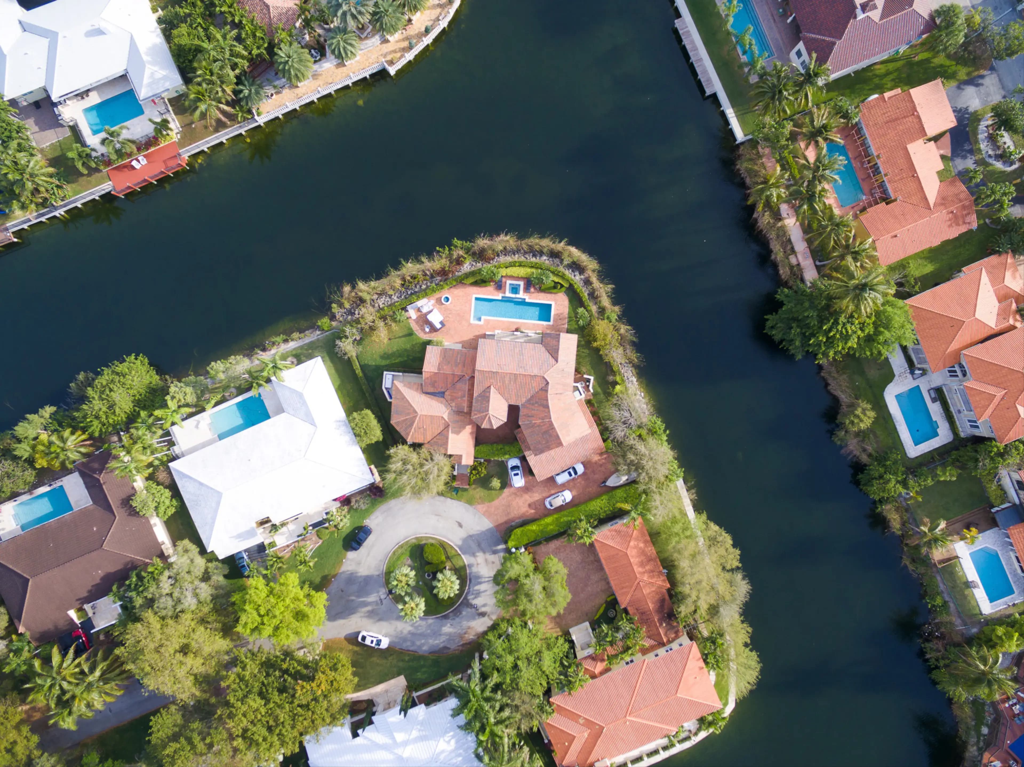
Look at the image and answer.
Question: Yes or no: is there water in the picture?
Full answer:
Yes, water shows up in the scene.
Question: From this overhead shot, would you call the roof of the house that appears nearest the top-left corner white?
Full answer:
Yes, the roof of the house that appears nearest the top-left corner is indeed white.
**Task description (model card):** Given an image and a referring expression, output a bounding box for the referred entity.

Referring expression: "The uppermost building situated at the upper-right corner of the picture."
[780,0,936,85]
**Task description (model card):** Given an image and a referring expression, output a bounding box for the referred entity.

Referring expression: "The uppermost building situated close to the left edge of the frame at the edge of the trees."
[0,0,186,106]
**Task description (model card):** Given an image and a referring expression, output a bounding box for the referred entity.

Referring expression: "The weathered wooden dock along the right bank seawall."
[675,17,716,95]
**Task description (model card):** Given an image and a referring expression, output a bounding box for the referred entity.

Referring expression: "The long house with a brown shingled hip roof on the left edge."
[0,450,168,647]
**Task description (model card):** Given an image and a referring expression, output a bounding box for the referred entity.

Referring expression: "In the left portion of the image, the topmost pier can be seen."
[101,138,190,198]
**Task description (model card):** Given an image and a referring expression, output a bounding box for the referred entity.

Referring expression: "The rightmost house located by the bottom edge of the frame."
[543,517,723,767]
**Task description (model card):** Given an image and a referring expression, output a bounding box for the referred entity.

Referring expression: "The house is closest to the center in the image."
[390,329,605,482]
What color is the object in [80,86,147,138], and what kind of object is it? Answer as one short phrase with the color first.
blue swimming pool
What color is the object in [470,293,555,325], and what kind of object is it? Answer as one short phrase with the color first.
blue swimming pool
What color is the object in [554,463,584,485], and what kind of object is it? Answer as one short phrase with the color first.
white car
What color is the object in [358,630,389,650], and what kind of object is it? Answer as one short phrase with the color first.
white car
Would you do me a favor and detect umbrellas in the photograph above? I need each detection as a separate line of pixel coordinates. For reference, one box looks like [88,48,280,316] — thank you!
[1016,699,1024,711]
[1013,714,1024,726]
